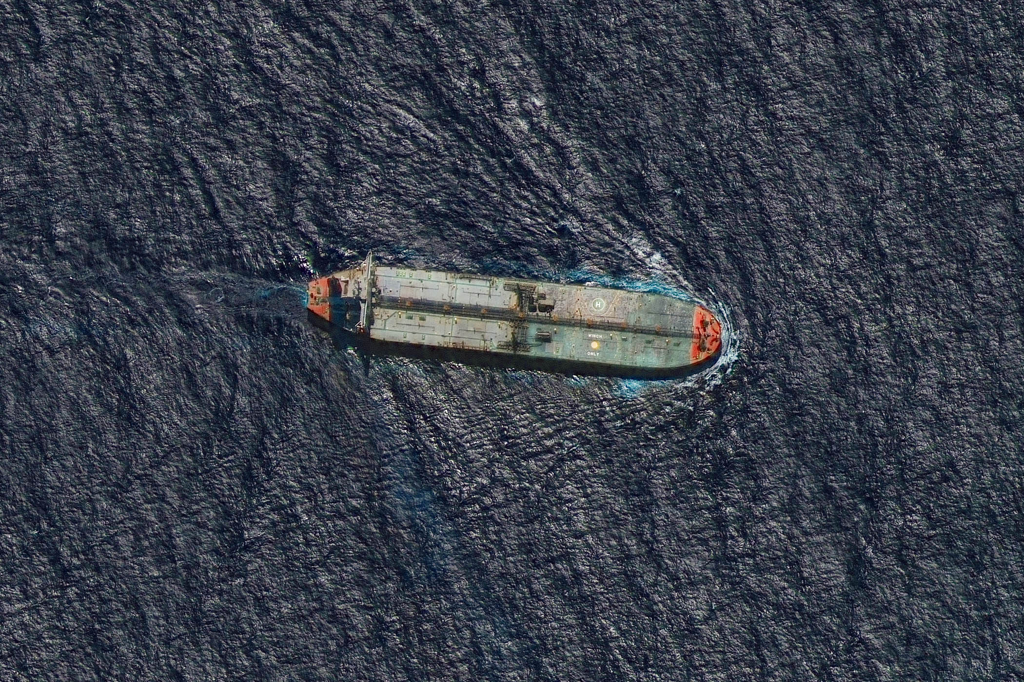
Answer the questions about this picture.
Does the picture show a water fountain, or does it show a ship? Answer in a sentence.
The one in the frame is a ship.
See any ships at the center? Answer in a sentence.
Yes, looking at the center, one can make out a ship.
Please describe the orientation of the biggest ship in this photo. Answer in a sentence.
The biggest ship is laid out from side to side.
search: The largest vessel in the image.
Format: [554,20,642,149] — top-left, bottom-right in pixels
[307,252,722,374]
